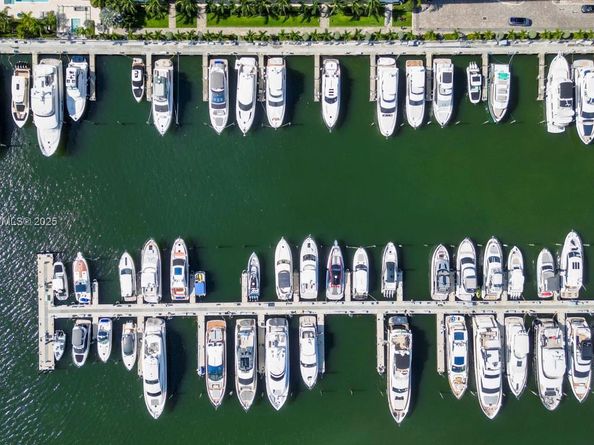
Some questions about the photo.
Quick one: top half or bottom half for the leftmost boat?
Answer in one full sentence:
Seen from above, the leftmost boat lies in the top half of the view.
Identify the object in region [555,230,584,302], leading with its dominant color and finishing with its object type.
white boat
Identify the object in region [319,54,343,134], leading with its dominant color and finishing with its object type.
white boat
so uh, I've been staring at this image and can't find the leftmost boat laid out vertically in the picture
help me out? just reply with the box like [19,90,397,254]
[8,54,34,129]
